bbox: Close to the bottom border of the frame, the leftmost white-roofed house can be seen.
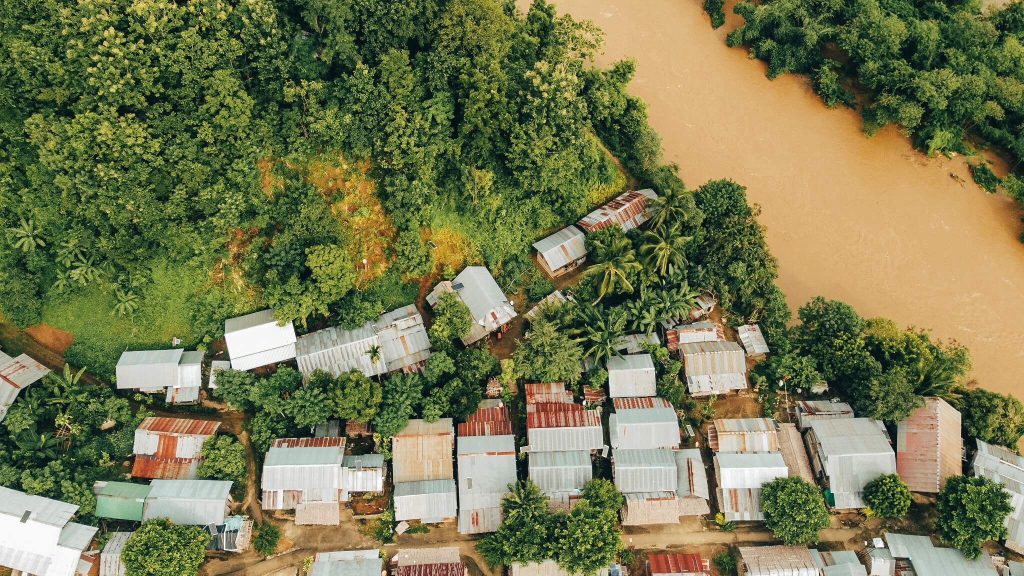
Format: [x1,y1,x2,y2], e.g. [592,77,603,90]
[0,487,106,576]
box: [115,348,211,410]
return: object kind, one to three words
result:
house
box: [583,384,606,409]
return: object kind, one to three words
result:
shed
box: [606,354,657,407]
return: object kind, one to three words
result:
house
